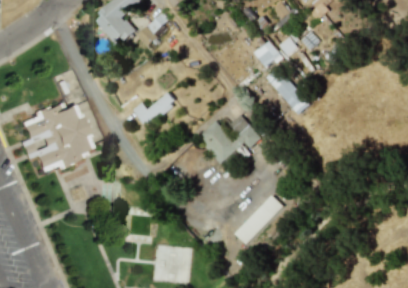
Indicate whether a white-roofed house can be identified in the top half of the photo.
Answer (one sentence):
Yes, you'll find a white-roofed house in the top half of the photo.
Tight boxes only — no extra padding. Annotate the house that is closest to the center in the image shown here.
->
[201,114,258,160]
